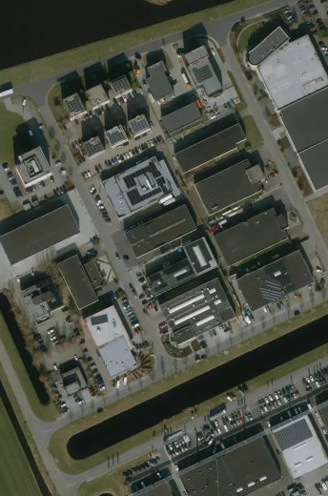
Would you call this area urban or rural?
urban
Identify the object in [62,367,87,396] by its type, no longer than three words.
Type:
building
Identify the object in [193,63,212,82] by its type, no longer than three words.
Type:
solar panel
